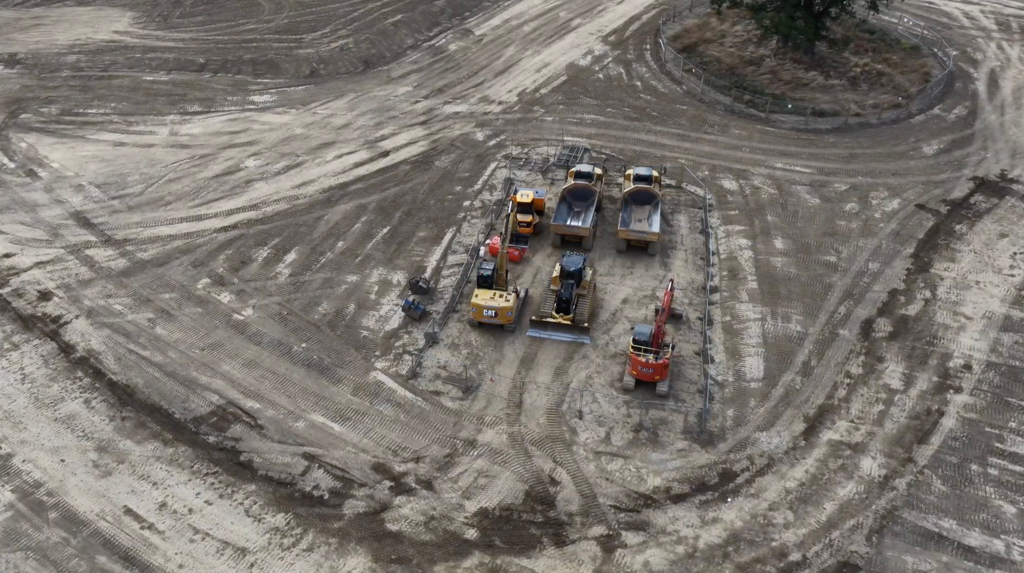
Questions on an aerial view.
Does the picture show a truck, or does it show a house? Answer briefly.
truck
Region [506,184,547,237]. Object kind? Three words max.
truck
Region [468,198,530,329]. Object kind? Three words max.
work vehicle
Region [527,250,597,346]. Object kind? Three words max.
work vehicle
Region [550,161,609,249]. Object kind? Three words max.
truck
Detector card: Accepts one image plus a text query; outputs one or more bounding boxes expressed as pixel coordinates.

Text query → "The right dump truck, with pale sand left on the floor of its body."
[618,164,667,253]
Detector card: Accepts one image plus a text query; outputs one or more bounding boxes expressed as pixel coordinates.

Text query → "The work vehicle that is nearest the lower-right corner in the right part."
[623,270,684,394]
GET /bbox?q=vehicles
[618,164,667,253]
[527,250,597,346]
[623,270,684,394]
[506,184,547,237]
[468,198,530,329]
[550,161,609,249]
